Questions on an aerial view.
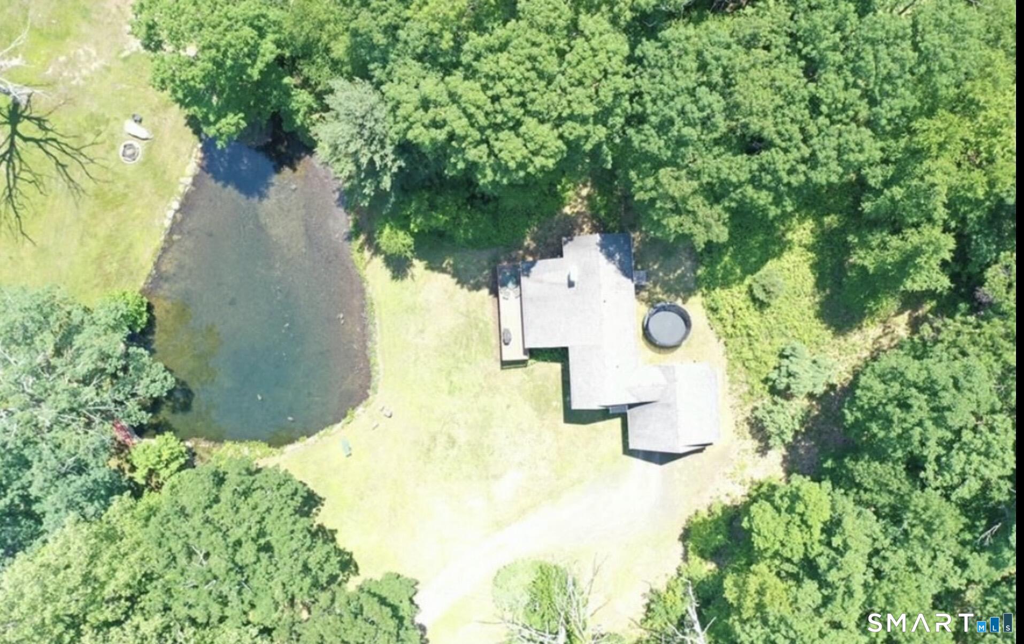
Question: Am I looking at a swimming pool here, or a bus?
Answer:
swimming pool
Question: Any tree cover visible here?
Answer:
Yes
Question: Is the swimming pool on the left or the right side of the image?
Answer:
right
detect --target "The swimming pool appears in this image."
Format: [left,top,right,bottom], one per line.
[643,300,695,350]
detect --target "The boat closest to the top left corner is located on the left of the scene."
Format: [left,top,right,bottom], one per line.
[123,119,151,138]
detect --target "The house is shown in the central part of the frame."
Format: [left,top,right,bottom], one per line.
[518,233,722,456]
